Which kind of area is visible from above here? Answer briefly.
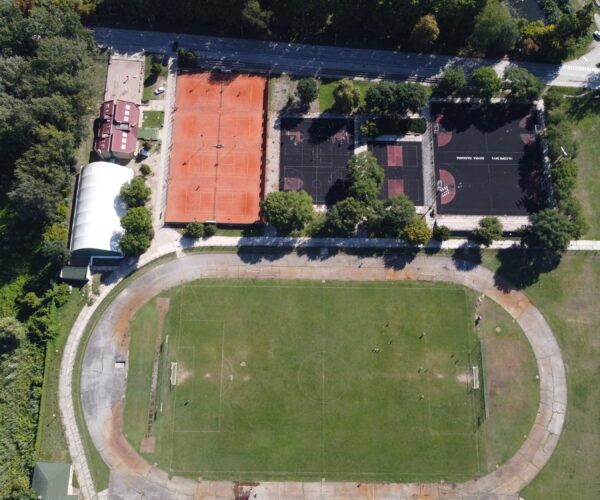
sports ground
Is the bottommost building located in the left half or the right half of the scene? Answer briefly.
left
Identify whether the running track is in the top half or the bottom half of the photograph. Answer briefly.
bottom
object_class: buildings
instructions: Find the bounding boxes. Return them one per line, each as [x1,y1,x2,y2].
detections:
[96,101,141,157]
[60,267,90,280]
[69,162,134,256]
[29,462,78,500]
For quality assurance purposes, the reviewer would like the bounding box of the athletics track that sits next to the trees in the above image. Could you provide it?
[81,252,567,500]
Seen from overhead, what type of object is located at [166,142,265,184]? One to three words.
tennis court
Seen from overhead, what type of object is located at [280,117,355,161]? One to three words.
basketball court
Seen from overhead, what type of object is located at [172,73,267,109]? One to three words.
tennis court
